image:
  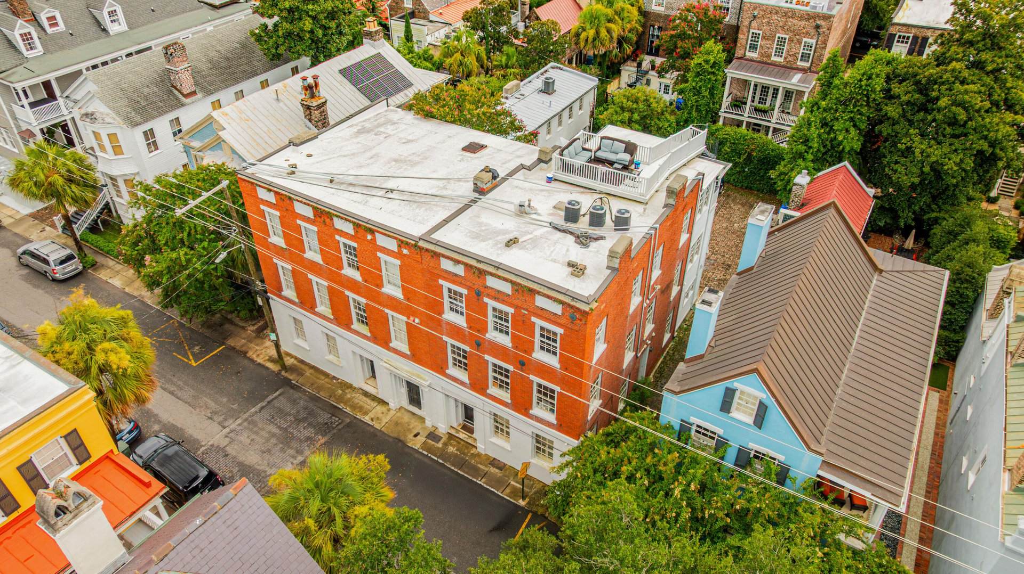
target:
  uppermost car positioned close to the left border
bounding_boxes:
[13,235,83,282]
